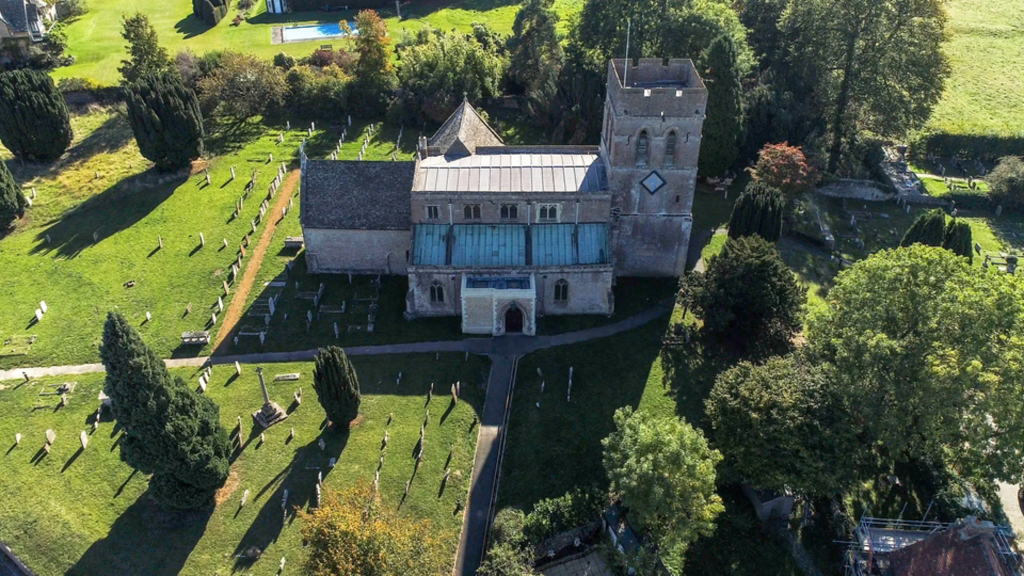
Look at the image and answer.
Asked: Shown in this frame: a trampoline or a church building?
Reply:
church building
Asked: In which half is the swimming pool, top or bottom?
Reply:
top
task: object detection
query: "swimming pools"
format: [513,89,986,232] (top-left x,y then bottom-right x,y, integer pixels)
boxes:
[272,22,362,44]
